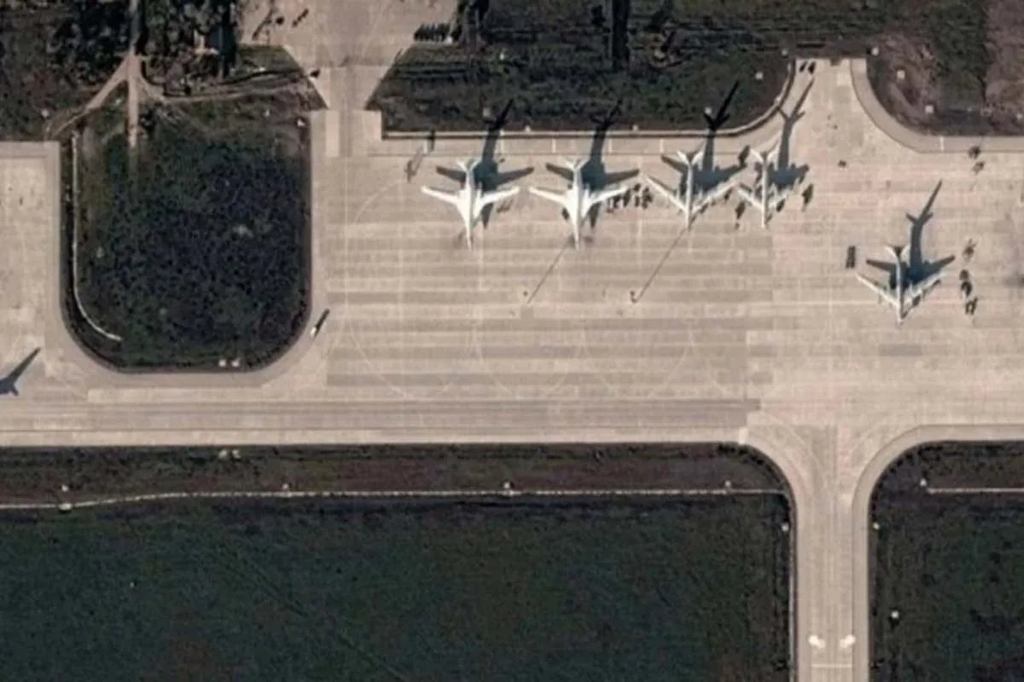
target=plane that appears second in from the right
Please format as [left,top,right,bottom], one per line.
[738,149,790,227]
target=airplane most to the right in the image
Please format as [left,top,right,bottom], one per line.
[857,243,942,324]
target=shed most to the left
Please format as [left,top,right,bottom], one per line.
[207,27,232,60]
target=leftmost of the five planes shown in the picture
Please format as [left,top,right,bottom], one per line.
[423,157,518,249]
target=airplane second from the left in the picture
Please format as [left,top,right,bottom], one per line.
[531,158,626,248]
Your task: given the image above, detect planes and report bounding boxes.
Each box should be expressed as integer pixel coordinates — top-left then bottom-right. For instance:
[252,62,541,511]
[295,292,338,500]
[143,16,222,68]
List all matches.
[531,158,626,248]
[738,149,790,227]
[646,150,731,230]
[423,157,518,249]
[857,243,942,324]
